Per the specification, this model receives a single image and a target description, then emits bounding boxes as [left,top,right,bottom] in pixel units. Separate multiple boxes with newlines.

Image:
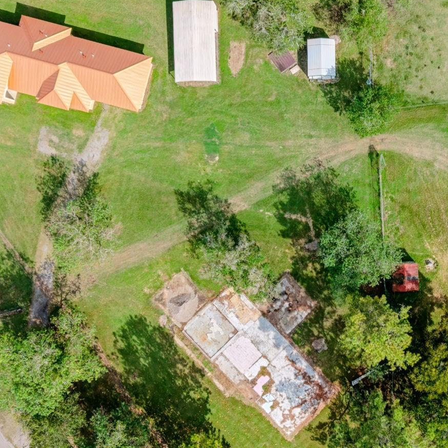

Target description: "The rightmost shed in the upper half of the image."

[308,38,336,82]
